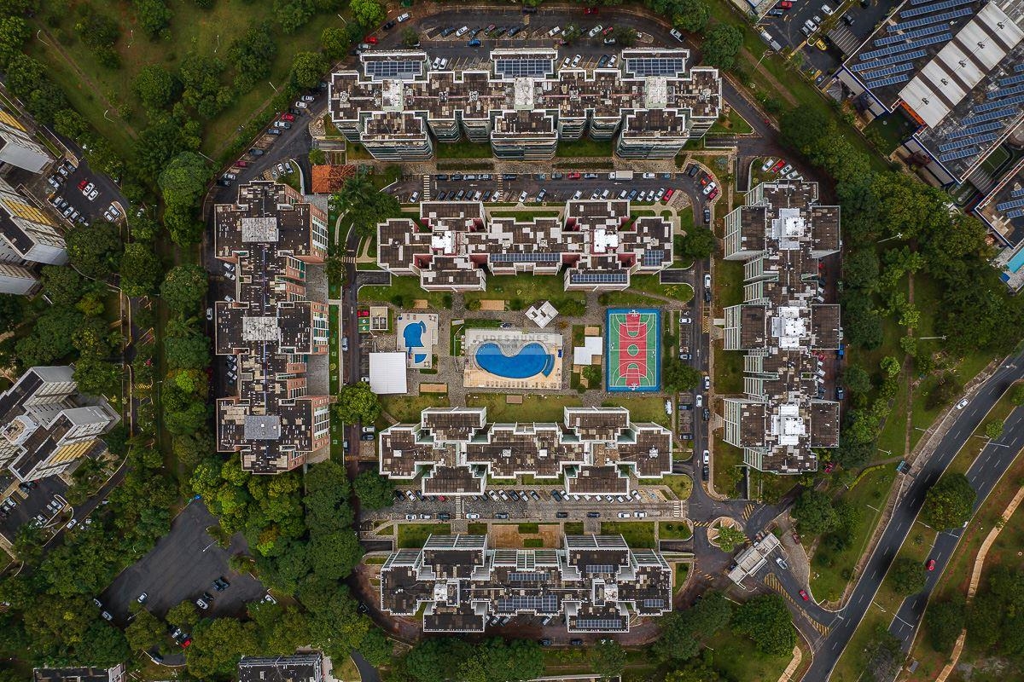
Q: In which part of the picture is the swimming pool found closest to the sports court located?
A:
center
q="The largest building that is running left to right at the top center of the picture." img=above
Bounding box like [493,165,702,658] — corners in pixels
[328,48,722,166]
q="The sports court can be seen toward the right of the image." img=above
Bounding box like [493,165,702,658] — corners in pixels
[607,308,663,392]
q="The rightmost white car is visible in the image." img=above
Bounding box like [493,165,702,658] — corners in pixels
[954,398,969,410]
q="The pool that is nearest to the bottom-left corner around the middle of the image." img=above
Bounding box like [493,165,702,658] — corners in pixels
[397,313,438,369]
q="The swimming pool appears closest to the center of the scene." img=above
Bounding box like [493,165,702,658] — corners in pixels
[464,329,562,389]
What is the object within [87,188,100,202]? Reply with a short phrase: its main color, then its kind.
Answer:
white vehicle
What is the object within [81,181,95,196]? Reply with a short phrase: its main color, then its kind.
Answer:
white car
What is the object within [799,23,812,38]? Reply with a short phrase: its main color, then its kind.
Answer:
gray vehicle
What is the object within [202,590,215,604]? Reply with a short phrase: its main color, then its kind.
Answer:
black vehicle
